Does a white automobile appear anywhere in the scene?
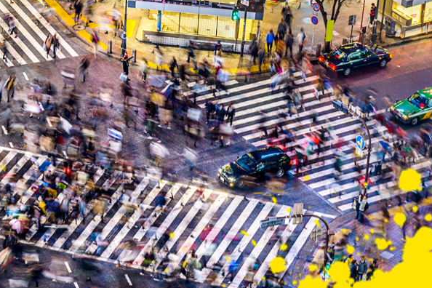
No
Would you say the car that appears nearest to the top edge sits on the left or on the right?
right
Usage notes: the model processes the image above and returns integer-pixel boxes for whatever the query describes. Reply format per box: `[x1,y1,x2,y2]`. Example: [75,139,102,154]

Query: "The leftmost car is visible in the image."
[215,140,296,184]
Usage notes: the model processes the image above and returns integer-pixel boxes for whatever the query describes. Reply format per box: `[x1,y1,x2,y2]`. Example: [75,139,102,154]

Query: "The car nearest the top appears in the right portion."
[312,44,390,78]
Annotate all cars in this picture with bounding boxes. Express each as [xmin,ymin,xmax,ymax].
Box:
[312,44,390,78]
[389,87,432,125]
[215,140,296,184]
